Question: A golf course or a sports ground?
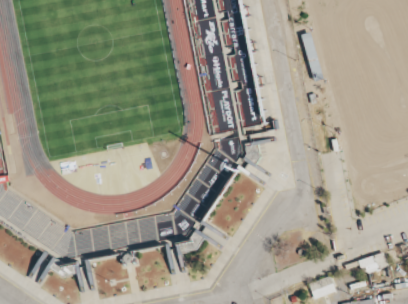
sports ground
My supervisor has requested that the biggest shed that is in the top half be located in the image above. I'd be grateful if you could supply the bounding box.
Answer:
[302,32,323,80]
